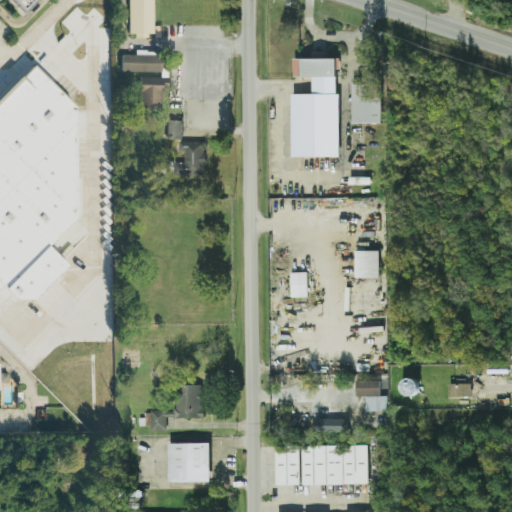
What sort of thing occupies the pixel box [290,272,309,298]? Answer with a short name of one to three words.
shed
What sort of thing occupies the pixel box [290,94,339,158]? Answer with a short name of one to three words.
building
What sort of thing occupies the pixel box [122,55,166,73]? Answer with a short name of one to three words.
house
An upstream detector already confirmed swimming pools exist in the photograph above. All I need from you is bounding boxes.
[2,380,16,408]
